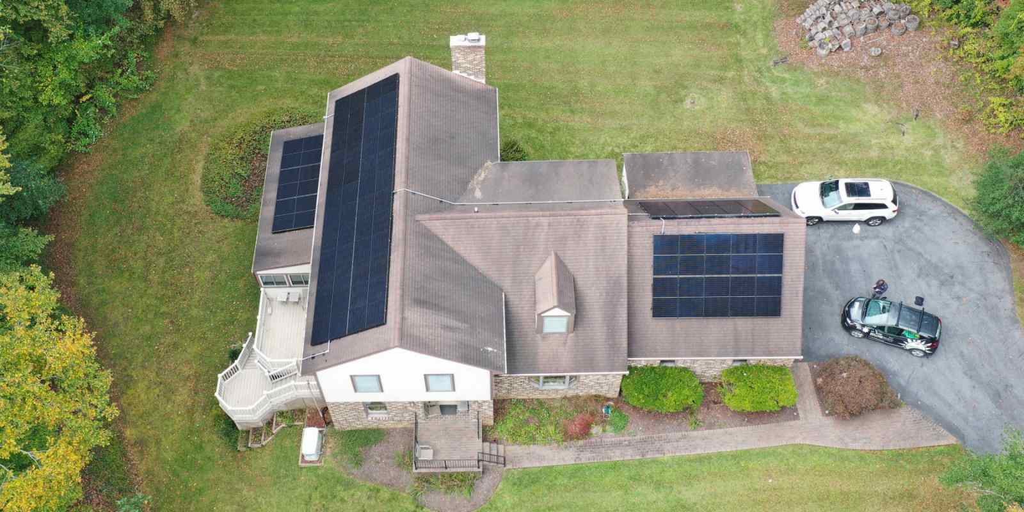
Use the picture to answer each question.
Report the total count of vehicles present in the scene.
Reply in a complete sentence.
In total, there are 2 vehicles in the scene.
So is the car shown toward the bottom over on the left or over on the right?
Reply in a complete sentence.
The car shown toward the bottom appears in the right half of the scene.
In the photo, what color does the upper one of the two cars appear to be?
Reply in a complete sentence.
The upper one of the two cars looks white in the image.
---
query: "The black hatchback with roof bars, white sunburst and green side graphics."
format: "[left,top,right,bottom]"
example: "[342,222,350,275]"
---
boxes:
[841,297,943,358]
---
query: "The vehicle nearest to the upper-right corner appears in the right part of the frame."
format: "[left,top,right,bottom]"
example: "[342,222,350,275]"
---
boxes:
[790,176,898,227]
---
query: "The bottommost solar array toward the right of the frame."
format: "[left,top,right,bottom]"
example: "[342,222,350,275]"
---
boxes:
[652,232,782,319]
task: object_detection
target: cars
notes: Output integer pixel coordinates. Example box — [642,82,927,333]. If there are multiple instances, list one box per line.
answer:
[790,176,898,227]
[841,297,943,358]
